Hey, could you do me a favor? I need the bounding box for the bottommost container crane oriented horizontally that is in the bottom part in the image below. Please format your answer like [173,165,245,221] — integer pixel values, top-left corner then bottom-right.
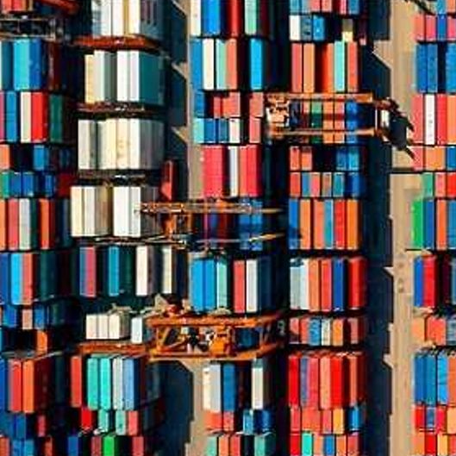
[148,296,287,357]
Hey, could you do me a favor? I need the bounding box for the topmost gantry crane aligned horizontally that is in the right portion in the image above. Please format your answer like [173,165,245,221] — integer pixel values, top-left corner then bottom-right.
[266,91,392,153]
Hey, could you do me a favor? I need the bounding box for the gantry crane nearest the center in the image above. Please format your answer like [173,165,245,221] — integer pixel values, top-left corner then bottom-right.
[143,198,284,249]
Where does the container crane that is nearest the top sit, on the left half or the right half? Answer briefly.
left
